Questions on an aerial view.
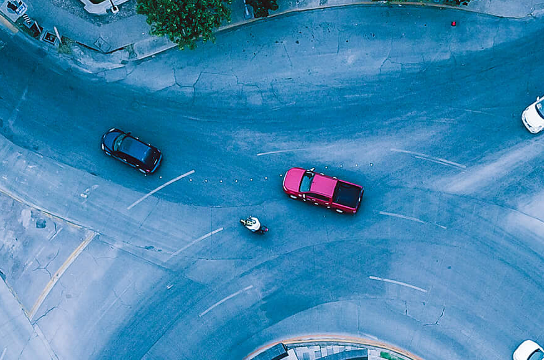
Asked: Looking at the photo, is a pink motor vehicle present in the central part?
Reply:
Yes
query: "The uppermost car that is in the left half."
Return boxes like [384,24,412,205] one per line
[99,128,165,175]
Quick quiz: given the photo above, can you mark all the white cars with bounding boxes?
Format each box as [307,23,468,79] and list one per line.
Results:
[510,338,544,360]
[518,96,544,135]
